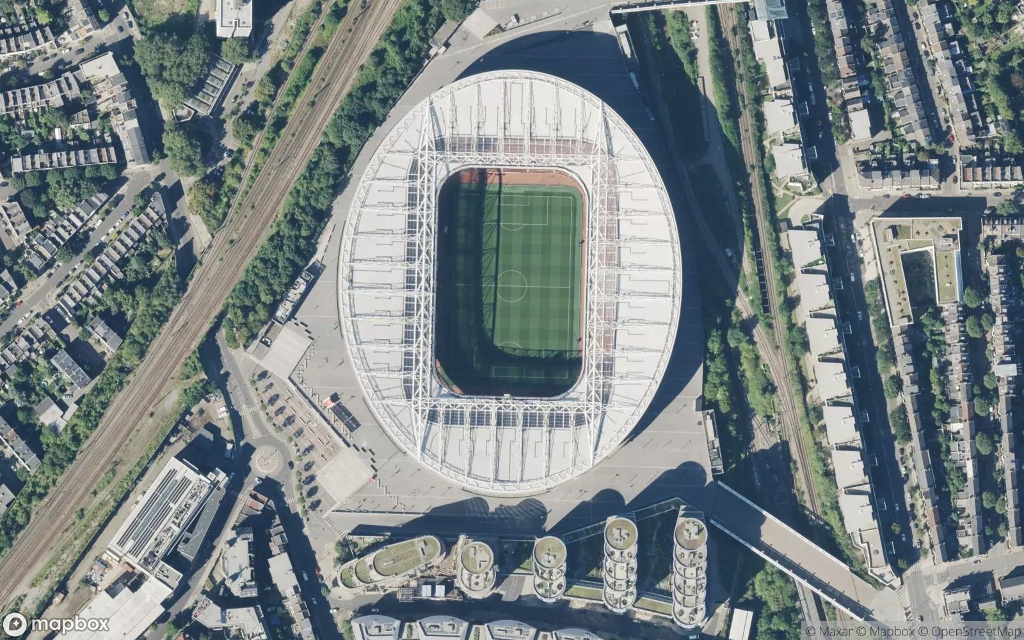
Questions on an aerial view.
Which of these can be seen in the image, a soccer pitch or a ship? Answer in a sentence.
Visible in the photo is a soccer pitch.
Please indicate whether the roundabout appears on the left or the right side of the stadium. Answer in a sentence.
The roundabout appears to the left of the stadium in this view.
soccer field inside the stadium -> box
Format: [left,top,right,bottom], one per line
[443,182,583,389]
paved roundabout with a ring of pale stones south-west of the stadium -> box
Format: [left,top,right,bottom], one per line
[243,436,292,484]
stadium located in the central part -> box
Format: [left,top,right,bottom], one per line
[337,70,683,496]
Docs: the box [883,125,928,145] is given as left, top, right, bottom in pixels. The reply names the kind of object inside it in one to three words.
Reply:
house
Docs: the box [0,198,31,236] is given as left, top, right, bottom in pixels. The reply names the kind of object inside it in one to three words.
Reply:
house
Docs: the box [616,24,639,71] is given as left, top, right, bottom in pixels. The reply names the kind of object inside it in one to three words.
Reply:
building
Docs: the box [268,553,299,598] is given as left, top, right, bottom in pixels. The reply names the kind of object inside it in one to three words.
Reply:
building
